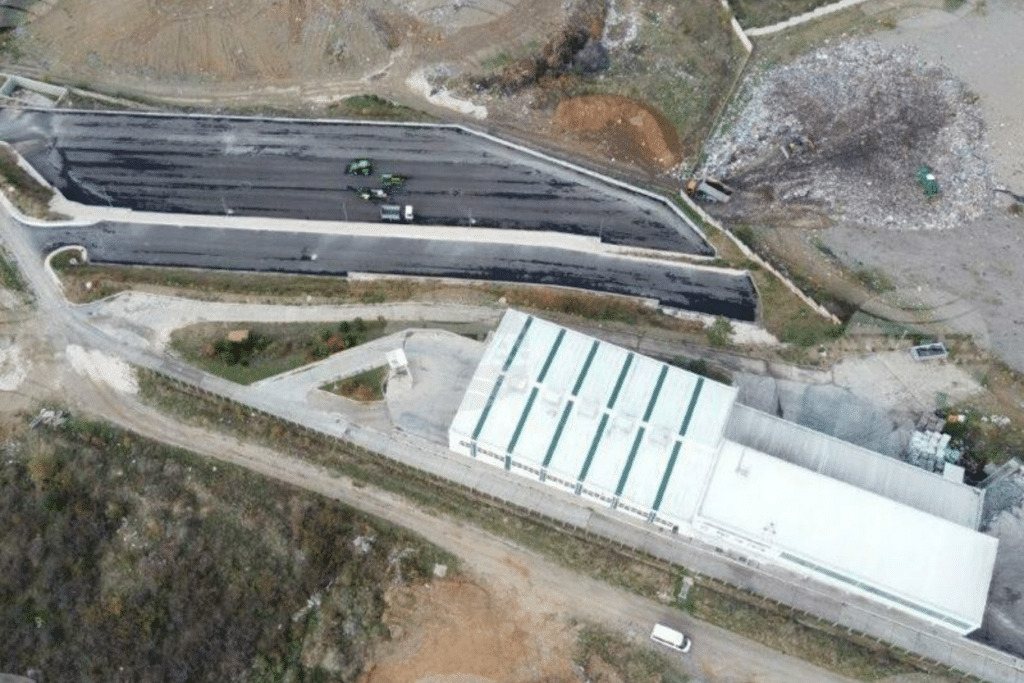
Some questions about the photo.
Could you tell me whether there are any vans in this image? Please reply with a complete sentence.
Yes, the frame does contain a van.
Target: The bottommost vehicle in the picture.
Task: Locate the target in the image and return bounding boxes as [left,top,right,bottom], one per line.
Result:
[652,627,694,656]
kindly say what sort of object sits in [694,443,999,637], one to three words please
building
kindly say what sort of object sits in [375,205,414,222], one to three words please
vehicle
